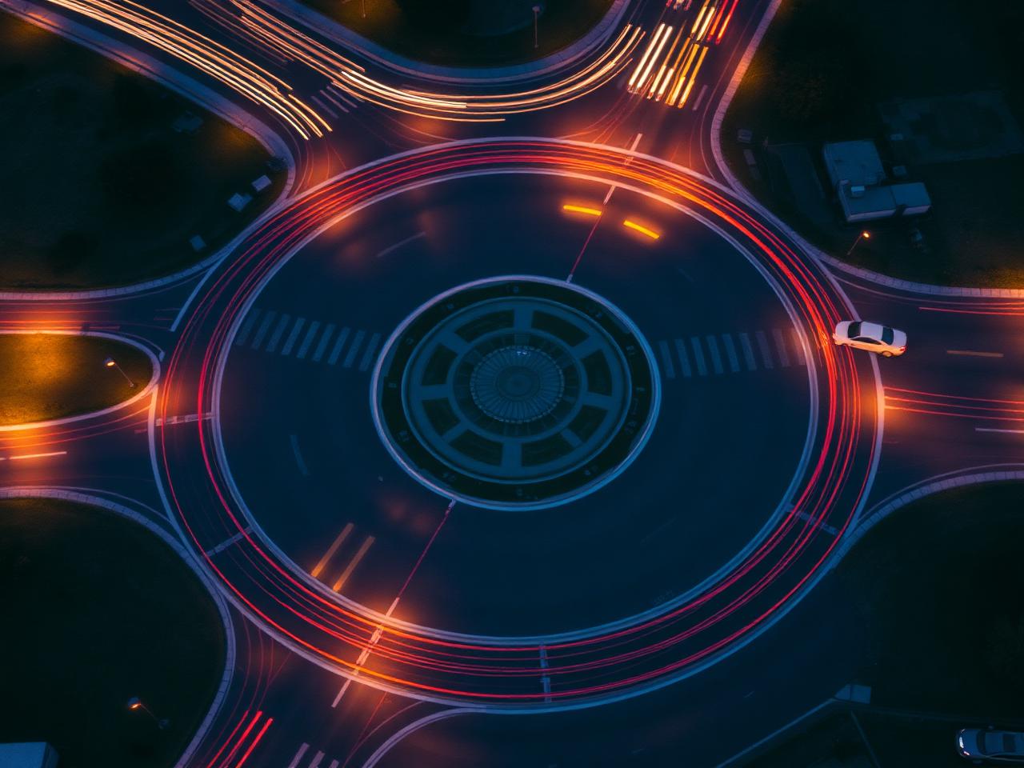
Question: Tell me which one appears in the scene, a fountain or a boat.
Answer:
fountain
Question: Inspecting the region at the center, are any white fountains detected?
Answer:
No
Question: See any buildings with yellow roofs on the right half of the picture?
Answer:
No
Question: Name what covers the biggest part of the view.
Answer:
paved ground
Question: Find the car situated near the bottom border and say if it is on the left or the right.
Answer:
right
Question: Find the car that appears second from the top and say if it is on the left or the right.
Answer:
right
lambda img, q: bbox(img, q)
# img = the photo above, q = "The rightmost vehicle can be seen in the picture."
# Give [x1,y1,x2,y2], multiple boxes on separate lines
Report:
[956,722,1024,767]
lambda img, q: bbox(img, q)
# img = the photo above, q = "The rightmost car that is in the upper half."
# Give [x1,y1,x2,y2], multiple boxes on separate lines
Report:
[898,212,942,255]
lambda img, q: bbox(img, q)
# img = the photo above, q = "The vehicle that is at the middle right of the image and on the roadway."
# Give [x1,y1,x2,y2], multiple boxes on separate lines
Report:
[835,317,908,355]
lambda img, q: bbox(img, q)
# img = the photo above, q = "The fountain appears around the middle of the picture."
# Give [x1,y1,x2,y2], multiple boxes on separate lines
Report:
[471,339,568,421]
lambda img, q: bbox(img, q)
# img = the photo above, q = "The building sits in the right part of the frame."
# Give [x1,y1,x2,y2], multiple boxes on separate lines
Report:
[821,140,930,227]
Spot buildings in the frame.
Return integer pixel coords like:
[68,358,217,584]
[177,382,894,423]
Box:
[0,741,75,768]
[821,140,930,227]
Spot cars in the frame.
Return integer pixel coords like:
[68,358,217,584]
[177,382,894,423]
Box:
[898,212,942,255]
[956,722,1024,767]
[835,317,908,355]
